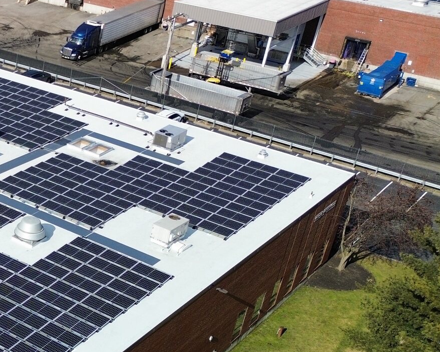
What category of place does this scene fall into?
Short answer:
industrial area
